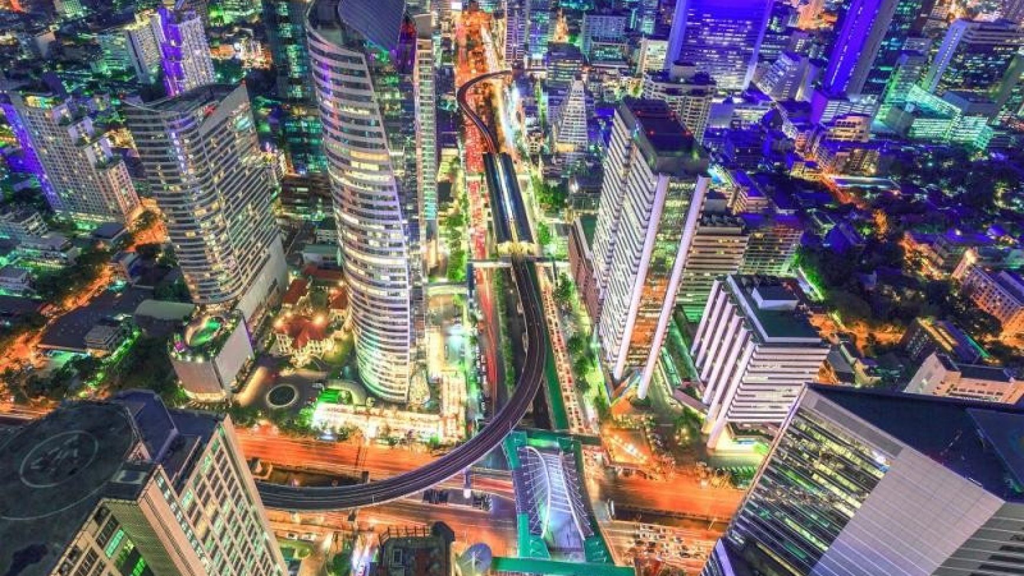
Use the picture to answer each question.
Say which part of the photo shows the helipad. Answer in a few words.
bottom left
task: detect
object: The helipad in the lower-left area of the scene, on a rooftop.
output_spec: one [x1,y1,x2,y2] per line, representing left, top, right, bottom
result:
[0,388,153,576]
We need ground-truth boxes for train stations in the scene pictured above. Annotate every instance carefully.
[483,152,536,268]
